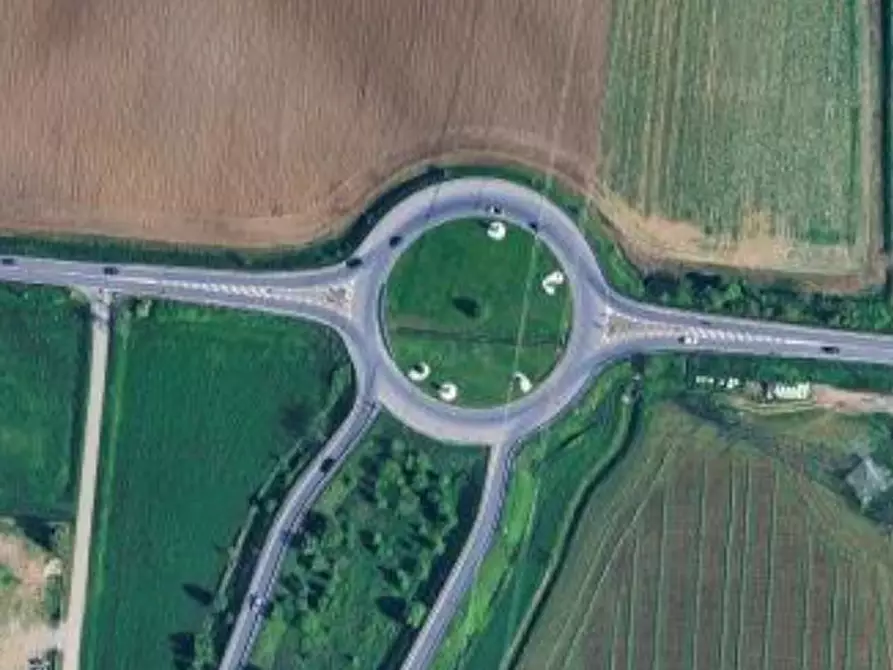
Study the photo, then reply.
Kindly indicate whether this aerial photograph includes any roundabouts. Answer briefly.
Yes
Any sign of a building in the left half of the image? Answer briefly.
No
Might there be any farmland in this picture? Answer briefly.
Yes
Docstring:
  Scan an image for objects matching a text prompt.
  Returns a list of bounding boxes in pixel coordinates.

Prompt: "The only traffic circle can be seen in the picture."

[272,176,683,448]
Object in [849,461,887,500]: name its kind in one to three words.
house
